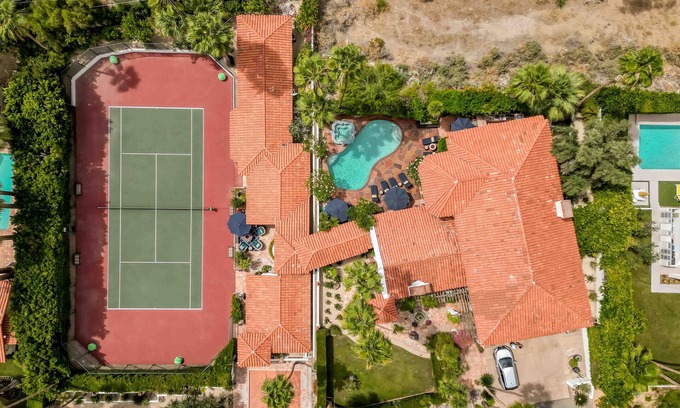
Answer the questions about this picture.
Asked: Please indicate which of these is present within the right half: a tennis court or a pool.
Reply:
pool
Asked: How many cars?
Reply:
1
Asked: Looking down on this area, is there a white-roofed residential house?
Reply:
No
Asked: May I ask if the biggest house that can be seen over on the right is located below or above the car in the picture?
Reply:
above it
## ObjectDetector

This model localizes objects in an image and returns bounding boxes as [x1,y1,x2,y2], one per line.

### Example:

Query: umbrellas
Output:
[448,112,476,137]
[324,197,349,223]
[384,185,410,211]
[225,209,251,235]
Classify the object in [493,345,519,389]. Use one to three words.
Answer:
car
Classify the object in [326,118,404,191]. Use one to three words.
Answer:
swimming pool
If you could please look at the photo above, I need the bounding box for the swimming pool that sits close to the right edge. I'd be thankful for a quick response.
[639,122,680,171]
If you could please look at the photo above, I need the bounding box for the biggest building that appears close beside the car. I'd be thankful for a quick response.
[370,116,592,347]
